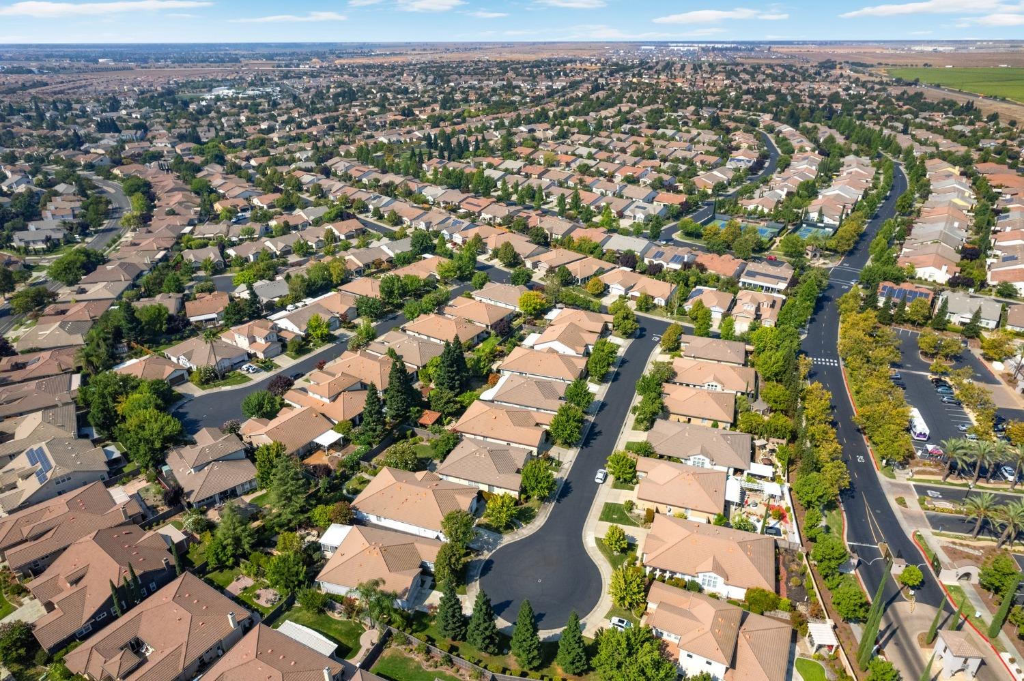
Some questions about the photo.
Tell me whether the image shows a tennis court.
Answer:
Yes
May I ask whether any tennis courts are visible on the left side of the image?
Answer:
No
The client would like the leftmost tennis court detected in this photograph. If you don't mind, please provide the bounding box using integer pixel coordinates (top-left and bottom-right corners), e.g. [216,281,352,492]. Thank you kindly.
[700,211,782,244]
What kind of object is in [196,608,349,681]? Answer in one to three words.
house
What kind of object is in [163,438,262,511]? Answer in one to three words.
house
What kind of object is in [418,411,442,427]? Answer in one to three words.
gazebo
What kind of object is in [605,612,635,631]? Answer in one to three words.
car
